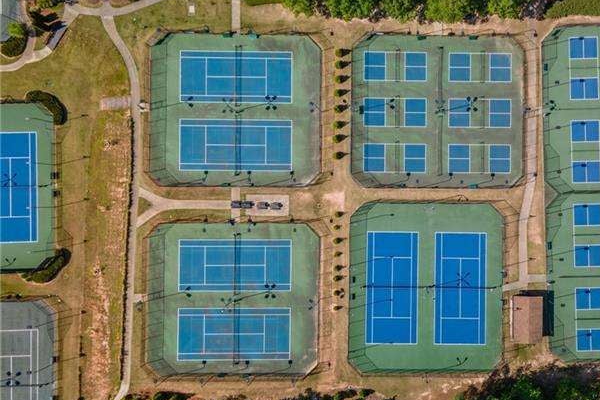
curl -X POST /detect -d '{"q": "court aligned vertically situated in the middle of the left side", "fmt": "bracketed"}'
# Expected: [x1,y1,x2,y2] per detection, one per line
[0,130,41,243]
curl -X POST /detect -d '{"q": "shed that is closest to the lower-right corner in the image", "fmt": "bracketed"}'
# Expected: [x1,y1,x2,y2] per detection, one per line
[511,295,544,343]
